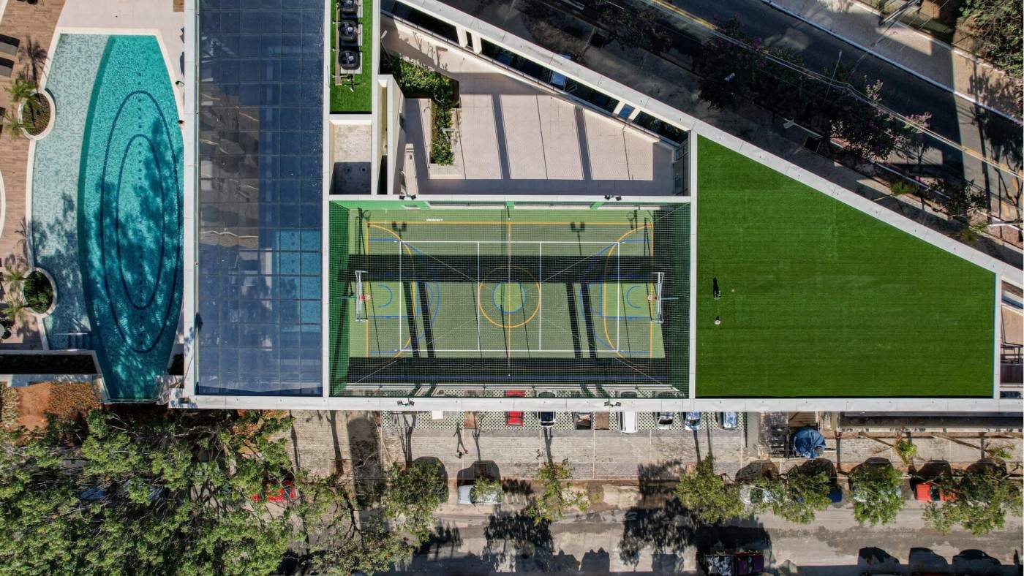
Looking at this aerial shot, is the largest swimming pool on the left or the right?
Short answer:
left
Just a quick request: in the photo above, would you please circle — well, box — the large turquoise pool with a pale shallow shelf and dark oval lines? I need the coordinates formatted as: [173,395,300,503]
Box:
[23,30,183,402]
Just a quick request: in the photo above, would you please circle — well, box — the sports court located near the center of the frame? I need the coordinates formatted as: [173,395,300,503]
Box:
[352,212,666,384]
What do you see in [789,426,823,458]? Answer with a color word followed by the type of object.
blue umbrella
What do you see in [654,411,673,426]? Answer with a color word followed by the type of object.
gray car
